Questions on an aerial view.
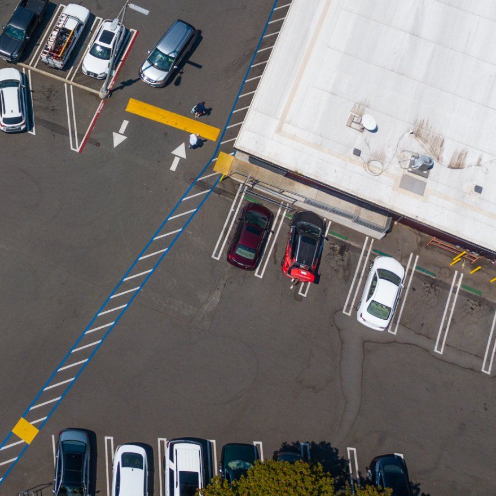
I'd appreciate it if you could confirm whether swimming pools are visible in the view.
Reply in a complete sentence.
No, I can't see a single swimming pool in this photo.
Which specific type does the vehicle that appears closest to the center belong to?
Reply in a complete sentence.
The vehicle that appears closest to the center is an automobile.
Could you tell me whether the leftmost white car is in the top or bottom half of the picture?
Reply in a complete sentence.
The top half of the photo is where the leftmost white car is.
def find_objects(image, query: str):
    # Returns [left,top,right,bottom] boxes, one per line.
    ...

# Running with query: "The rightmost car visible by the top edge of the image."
[143,19,196,90]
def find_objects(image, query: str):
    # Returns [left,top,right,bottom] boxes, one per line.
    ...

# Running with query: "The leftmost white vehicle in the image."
[0,70,27,134]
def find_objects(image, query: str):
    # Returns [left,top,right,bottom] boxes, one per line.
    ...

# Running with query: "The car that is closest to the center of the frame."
[226,201,274,274]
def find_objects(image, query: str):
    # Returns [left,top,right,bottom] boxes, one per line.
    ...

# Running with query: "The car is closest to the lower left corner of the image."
[52,429,96,496]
